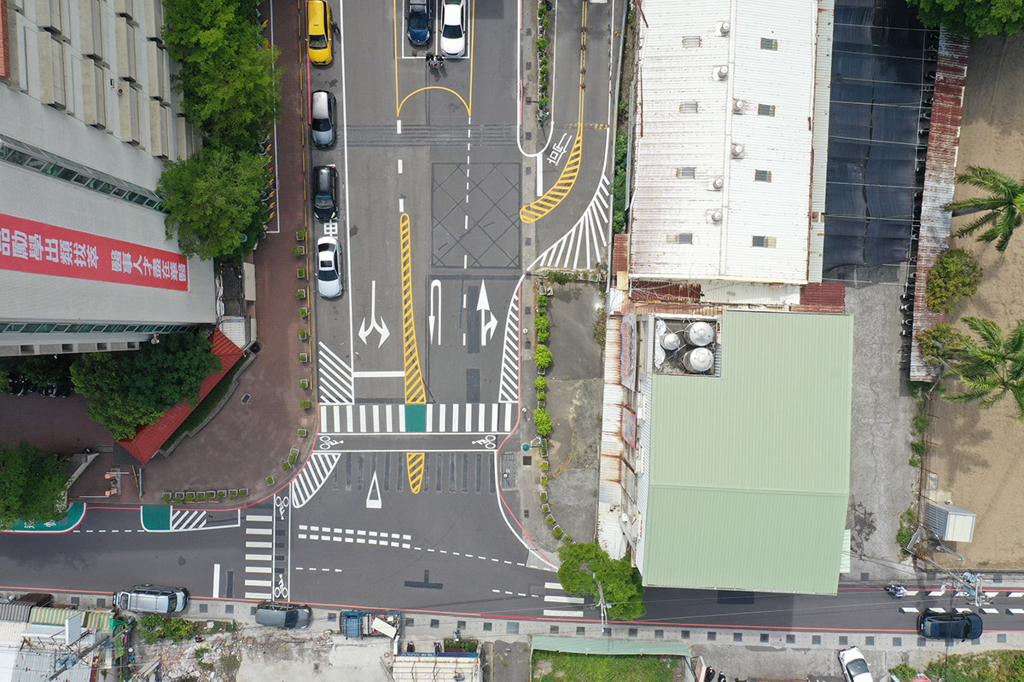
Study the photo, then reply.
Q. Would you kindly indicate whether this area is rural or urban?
urban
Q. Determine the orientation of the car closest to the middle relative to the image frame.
from top to bottom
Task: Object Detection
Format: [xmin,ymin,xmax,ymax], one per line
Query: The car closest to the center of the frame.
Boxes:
[312,234,343,298]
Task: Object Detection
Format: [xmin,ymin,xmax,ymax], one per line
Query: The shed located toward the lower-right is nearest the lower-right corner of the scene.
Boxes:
[923,503,978,544]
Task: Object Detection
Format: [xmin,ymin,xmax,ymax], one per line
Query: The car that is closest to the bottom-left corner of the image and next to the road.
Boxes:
[107,583,185,618]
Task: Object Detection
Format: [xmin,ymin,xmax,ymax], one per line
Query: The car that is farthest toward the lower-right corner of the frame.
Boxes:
[917,610,984,645]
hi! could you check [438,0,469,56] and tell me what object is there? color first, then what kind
white car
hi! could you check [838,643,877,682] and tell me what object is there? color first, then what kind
white car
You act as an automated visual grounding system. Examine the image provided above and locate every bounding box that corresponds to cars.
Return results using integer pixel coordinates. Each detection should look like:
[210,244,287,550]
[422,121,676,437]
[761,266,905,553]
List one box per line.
[312,234,343,298]
[305,85,337,147]
[403,0,433,40]
[251,600,312,634]
[838,643,877,682]
[301,0,334,59]
[917,610,984,645]
[307,160,339,220]
[107,583,185,618]
[438,0,469,56]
